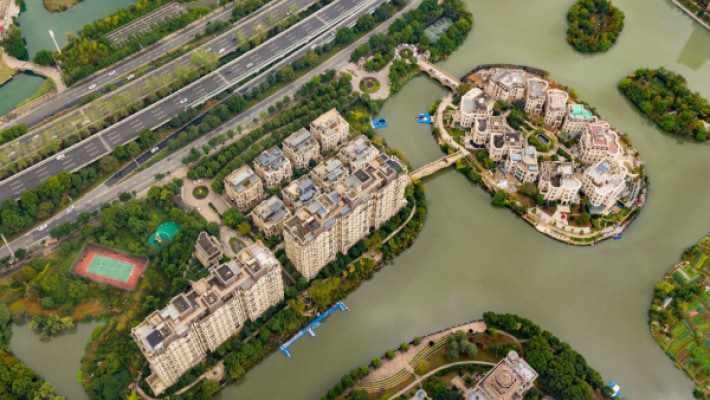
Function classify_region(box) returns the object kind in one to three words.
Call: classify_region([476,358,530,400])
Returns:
house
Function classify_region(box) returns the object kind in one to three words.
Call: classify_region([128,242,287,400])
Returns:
building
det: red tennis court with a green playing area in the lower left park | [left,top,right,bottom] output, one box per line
[71,241,147,289]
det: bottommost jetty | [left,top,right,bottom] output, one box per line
[281,302,347,358]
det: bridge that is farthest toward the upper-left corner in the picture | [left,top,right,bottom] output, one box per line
[0,51,66,94]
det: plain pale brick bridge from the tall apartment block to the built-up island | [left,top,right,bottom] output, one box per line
[406,147,469,181]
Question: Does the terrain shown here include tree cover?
Yes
